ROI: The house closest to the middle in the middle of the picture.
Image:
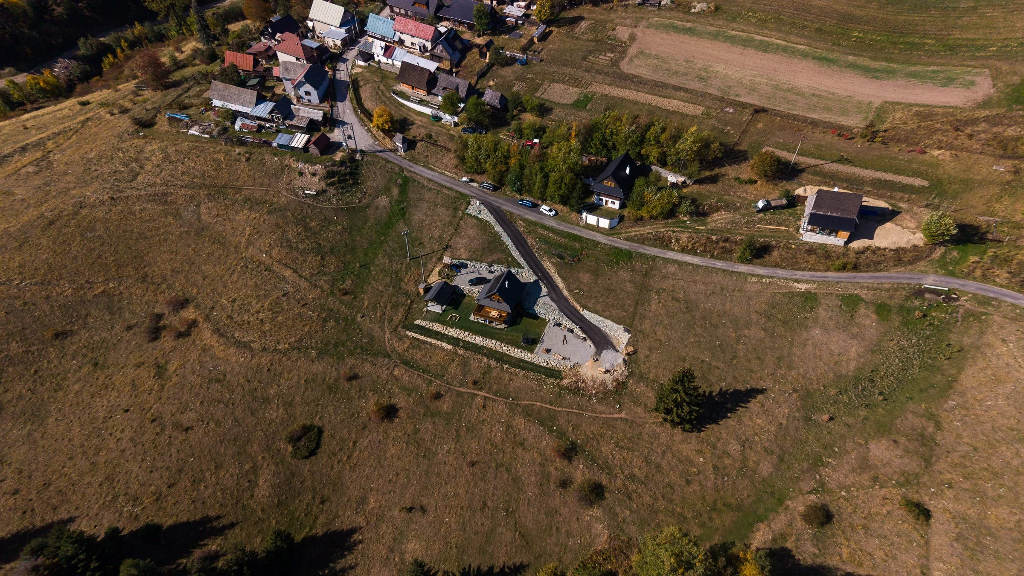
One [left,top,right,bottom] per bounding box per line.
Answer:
[475,269,524,332]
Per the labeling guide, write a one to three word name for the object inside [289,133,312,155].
shed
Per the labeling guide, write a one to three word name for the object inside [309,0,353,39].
house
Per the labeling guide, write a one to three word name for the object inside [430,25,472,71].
barn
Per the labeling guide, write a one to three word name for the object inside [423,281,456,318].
building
